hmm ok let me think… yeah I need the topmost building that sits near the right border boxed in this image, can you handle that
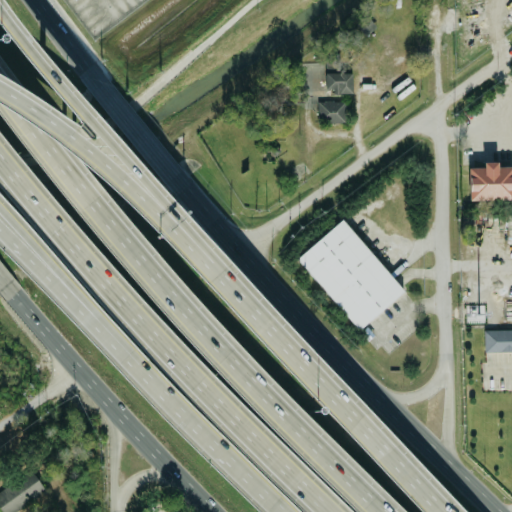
[469,163,512,202]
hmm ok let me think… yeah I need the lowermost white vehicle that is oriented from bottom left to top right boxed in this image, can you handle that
[392,263,409,278]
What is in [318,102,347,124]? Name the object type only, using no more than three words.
house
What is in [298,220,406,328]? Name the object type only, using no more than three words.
building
